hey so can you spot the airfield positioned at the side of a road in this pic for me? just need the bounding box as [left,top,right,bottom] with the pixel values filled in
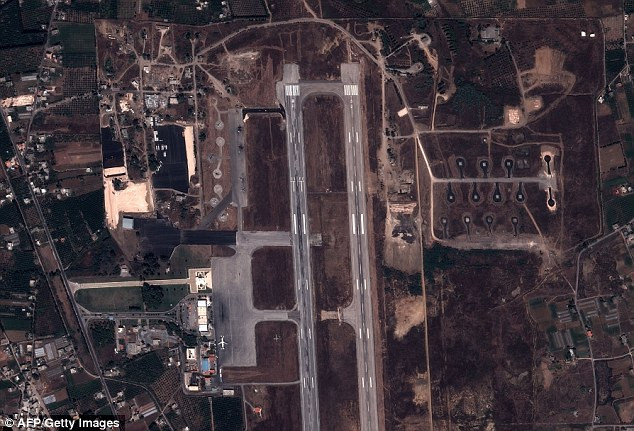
[102,63,378,431]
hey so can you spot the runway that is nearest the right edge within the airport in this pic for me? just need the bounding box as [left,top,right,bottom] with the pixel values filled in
[342,81,378,431]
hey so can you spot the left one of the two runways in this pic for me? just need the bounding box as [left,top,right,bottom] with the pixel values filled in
[284,81,319,431]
